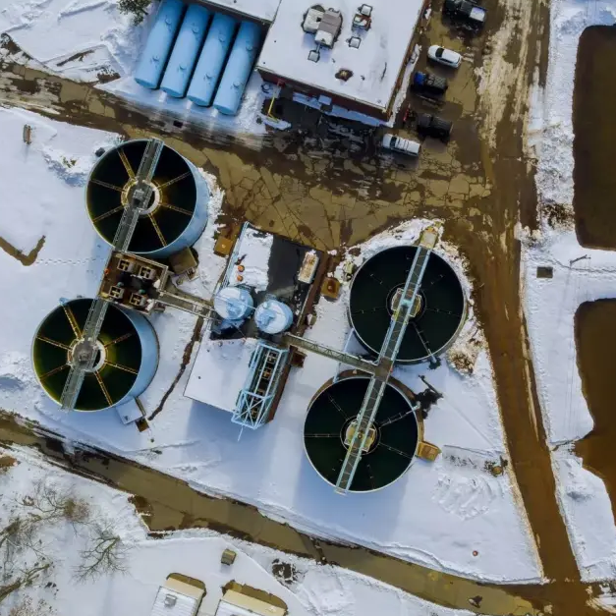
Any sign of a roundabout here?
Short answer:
No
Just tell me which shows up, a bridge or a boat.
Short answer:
bridge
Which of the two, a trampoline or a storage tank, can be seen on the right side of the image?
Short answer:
storage tank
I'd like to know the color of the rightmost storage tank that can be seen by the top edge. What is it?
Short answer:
blue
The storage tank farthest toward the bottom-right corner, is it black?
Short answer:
Yes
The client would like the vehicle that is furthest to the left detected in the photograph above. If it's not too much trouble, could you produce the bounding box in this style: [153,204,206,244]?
[382,135,421,158]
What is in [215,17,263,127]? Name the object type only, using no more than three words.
storage tank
